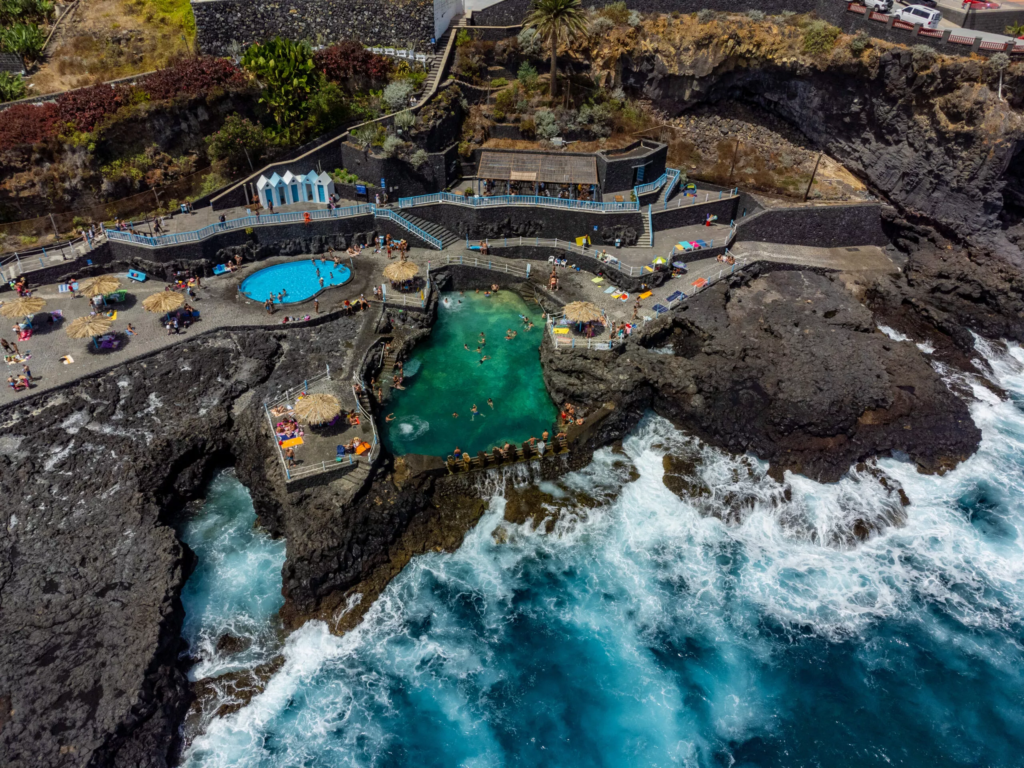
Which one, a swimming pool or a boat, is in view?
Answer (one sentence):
There is a swimming pool in the scene.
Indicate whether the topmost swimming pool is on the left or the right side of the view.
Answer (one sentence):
The topmost swimming pool is on the left side of the image.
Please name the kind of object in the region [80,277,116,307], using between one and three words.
umbrella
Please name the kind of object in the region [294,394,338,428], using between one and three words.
umbrella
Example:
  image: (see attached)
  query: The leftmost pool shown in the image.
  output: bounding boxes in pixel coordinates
[238,258,354,306]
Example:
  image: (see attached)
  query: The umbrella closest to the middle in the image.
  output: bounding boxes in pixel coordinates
[562,302,600,333]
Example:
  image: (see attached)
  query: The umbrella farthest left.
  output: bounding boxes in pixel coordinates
[2,299,42,330]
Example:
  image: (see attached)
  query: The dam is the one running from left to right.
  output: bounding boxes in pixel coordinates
[443,437,569,481]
